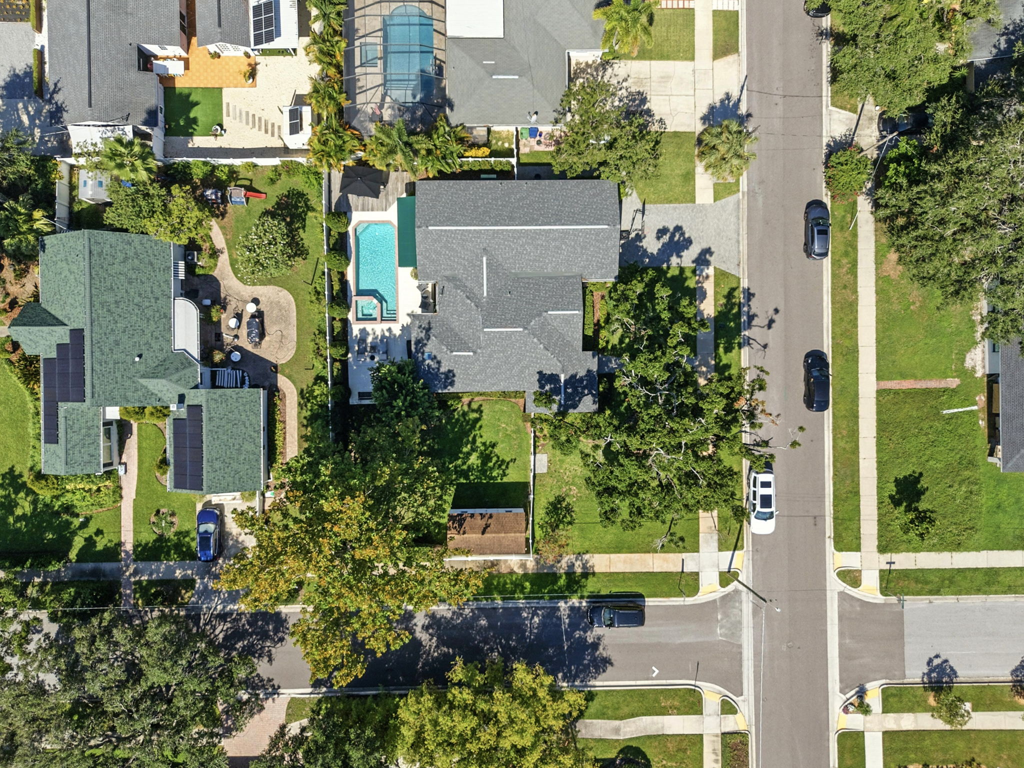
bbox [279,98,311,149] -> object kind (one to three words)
shed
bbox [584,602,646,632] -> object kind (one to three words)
car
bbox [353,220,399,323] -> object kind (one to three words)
swimming pool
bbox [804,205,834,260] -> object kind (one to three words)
car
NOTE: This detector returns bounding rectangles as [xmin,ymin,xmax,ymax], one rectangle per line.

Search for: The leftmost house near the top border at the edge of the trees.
[49,0,187,142]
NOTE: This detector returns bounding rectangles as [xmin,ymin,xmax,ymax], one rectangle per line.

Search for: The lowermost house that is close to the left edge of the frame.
[9,234,270,497]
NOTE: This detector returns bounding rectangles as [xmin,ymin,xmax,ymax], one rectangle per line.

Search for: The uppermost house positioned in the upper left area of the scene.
[192,0,255,56]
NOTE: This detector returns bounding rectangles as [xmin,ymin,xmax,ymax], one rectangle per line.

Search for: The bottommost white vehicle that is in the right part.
[746,468,778,534]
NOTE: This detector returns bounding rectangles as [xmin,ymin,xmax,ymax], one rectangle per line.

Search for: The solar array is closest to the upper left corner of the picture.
[252,0,277,49]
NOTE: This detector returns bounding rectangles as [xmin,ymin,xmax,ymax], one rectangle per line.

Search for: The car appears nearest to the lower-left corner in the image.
[192,503,223,563]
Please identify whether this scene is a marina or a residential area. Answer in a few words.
residential area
